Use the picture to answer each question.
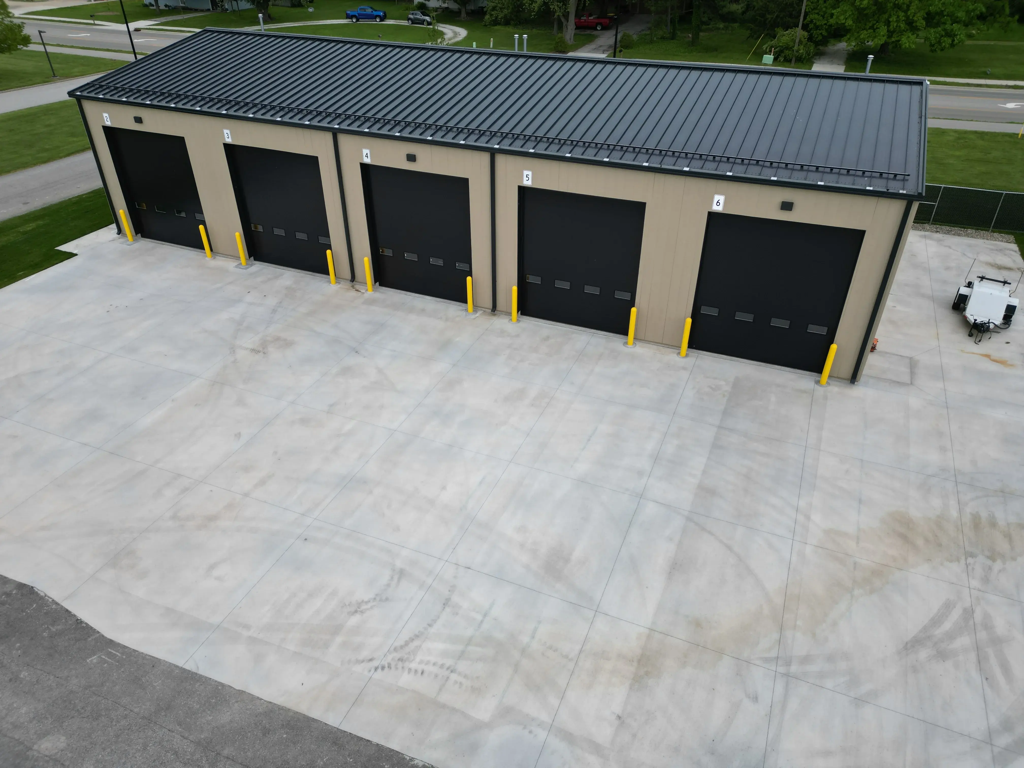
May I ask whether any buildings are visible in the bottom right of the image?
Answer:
No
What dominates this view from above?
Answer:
paved ground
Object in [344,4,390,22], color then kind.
blue vehicle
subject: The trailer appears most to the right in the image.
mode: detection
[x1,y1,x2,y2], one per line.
[953,254,1024,347]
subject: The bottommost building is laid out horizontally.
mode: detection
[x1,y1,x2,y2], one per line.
[66,14,931,386]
